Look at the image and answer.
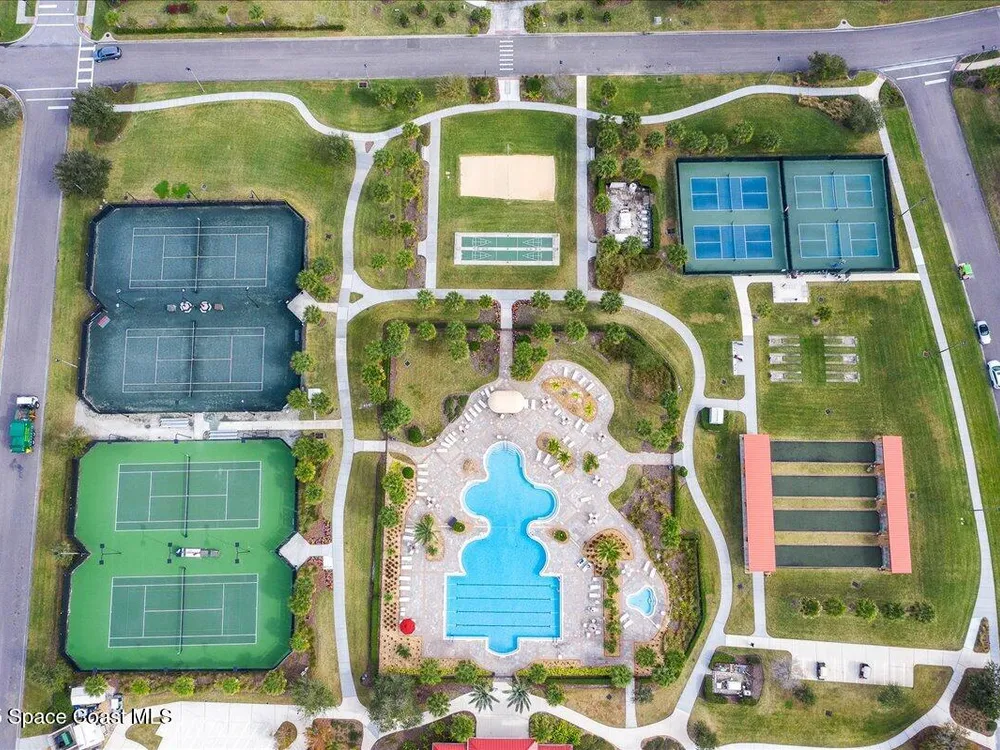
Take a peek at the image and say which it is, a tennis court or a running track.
tennis court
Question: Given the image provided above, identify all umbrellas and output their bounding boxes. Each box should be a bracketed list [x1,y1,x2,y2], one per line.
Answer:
[200,302,212,312]
[399,617,416,635]
[181,302,192,313]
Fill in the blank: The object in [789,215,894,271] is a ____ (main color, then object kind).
blue sports court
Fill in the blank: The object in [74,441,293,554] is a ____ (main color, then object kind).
green tennis court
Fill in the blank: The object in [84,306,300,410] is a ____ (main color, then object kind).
blue tennis court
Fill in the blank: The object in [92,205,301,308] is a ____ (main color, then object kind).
blue tennis court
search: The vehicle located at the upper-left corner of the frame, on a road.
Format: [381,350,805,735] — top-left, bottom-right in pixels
[93,45,119,60]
